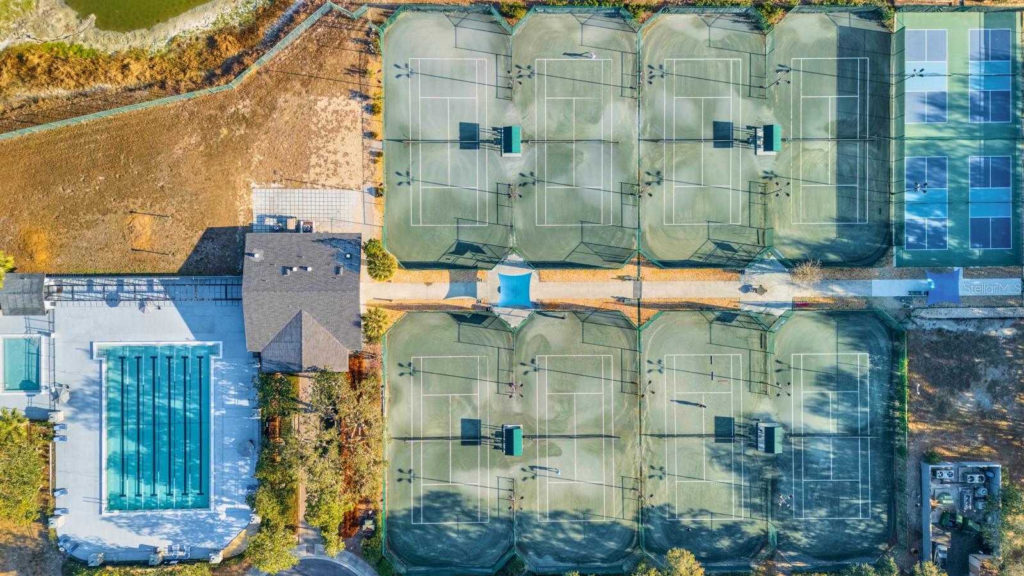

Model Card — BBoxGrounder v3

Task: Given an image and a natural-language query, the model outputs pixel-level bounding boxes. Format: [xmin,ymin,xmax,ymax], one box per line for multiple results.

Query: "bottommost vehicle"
[933,533,949,562]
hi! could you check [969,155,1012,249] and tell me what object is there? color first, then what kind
blue sports court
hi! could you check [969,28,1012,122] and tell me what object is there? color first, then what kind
blue sports court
